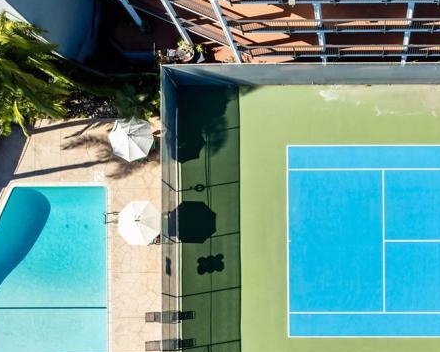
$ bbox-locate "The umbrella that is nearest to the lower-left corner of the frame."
[119,202,161,244]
